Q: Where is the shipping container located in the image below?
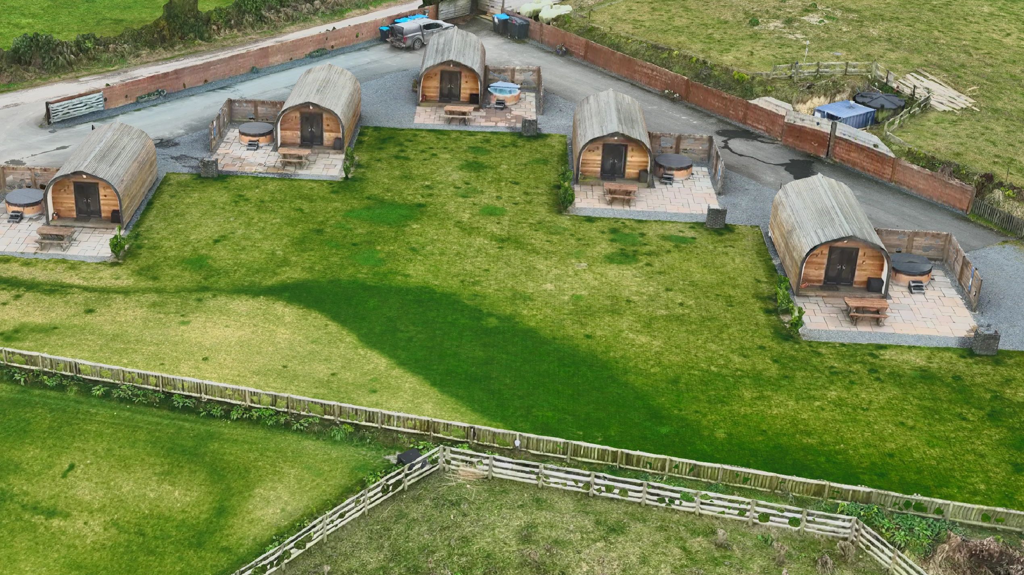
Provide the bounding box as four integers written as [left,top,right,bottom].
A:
[816,100,874,130]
